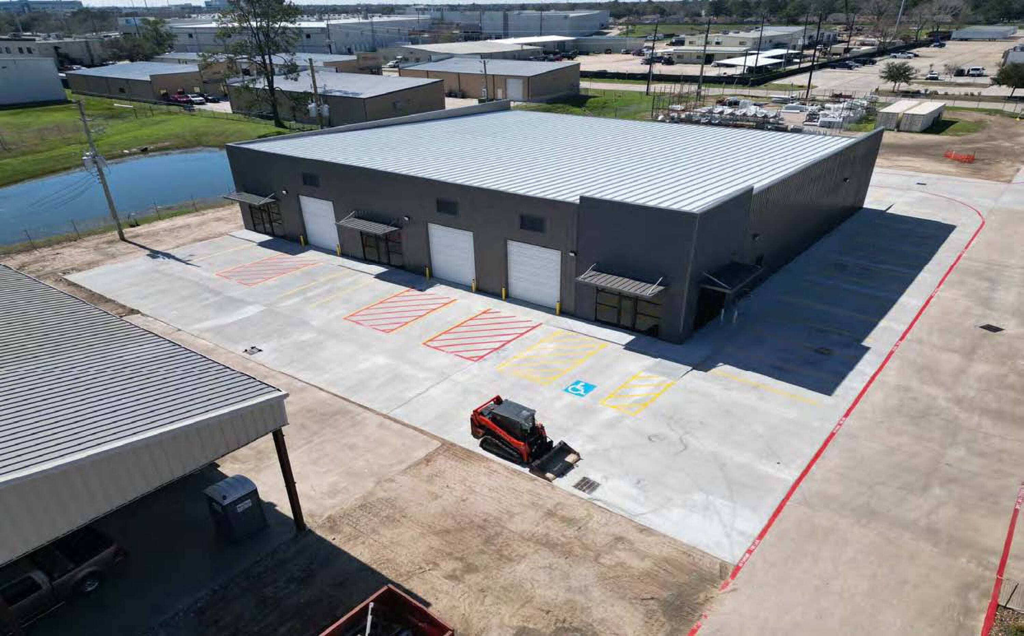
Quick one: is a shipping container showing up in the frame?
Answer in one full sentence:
Yes, a shipping container appears in the view.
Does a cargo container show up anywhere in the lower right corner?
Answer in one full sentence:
No, no cargo container appears in the lower right corner.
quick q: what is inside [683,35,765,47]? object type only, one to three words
building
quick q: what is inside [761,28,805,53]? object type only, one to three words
building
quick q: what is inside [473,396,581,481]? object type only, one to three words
work vehicle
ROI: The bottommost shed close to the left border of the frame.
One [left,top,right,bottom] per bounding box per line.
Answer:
[0,265,306,567]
